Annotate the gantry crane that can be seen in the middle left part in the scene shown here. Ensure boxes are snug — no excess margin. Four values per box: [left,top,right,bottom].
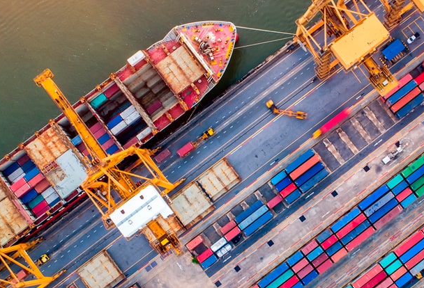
[30,73,189,266]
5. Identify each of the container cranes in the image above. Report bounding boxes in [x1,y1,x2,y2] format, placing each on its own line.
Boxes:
[291,0,403,95]
[378,0,424,29]
[30,73,189,266]
[0,240,73,288]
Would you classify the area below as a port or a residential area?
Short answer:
port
